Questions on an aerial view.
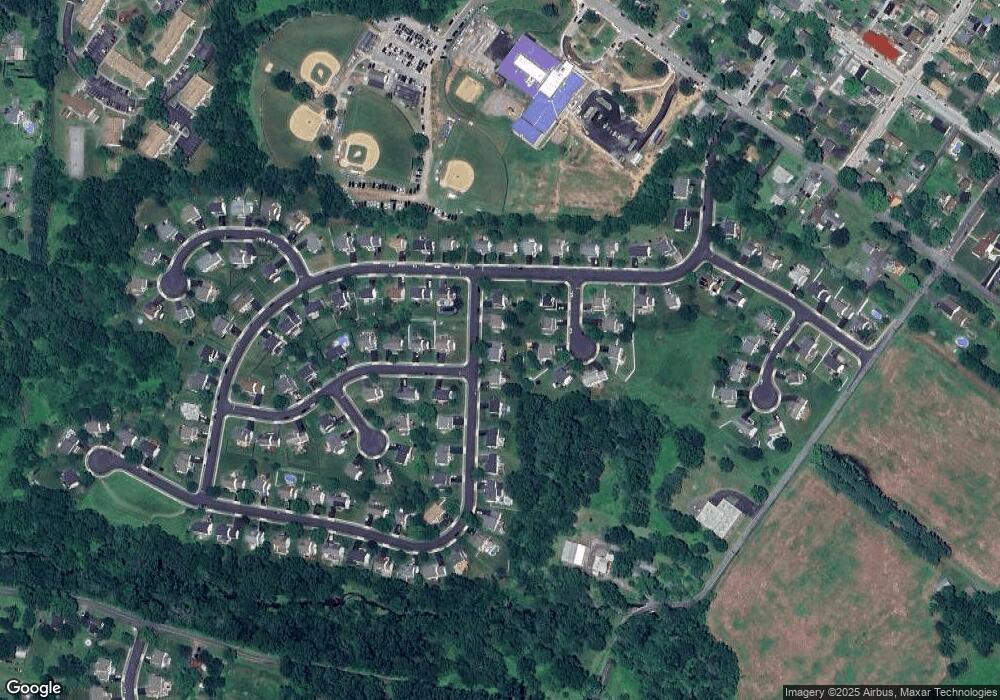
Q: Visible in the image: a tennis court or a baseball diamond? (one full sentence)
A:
The one in the frame is a baseball diamond.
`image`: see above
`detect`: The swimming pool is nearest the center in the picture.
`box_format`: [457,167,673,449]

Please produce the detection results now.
[335,334,351,348]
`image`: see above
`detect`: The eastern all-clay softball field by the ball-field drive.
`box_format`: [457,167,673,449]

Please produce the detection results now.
[436,160,475,197]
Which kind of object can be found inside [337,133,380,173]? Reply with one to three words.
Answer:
baseball field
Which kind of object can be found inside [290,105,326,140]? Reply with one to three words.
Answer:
baseball field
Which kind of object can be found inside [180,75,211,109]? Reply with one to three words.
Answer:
building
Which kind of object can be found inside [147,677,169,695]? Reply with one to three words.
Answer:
house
